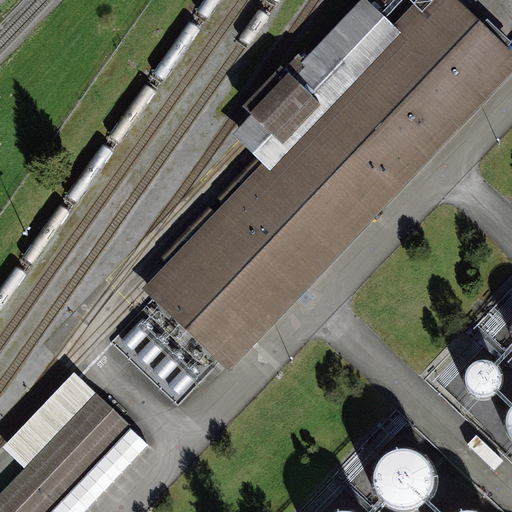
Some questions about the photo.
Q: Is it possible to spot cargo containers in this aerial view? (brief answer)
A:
Yes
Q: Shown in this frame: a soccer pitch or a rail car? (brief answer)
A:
rail car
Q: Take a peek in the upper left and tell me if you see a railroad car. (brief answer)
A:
Yes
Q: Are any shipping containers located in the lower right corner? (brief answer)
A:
Yes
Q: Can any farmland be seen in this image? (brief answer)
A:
No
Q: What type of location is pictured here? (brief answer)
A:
industrial area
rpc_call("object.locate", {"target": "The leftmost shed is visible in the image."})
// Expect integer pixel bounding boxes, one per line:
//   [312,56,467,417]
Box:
[0,394,129,512]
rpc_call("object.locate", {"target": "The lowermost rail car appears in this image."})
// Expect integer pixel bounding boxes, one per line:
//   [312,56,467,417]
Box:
[0,262,30,313]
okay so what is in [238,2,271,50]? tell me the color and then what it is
white rail car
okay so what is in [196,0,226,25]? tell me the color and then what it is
white rail car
